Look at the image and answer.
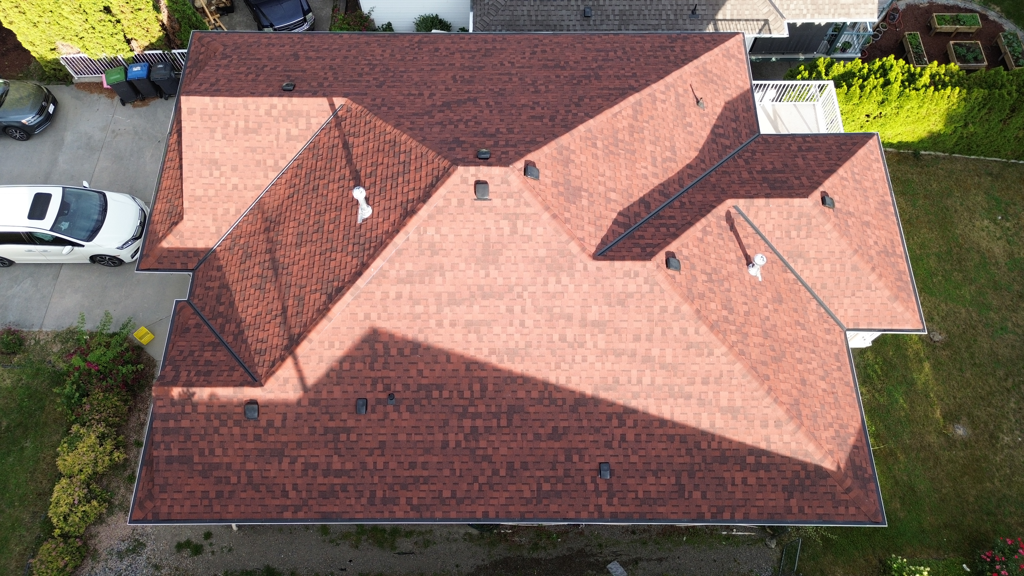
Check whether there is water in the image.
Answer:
No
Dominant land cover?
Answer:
buildings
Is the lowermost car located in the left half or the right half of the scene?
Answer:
left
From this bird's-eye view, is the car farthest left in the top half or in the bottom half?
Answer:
top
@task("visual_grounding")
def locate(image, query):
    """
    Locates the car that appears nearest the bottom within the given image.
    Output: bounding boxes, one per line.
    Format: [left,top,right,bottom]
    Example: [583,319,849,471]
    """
[0,177,151,267]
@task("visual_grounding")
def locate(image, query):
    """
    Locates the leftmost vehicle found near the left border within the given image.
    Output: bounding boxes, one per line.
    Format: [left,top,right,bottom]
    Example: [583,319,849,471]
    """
[0,74,60,141]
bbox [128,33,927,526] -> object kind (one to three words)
house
